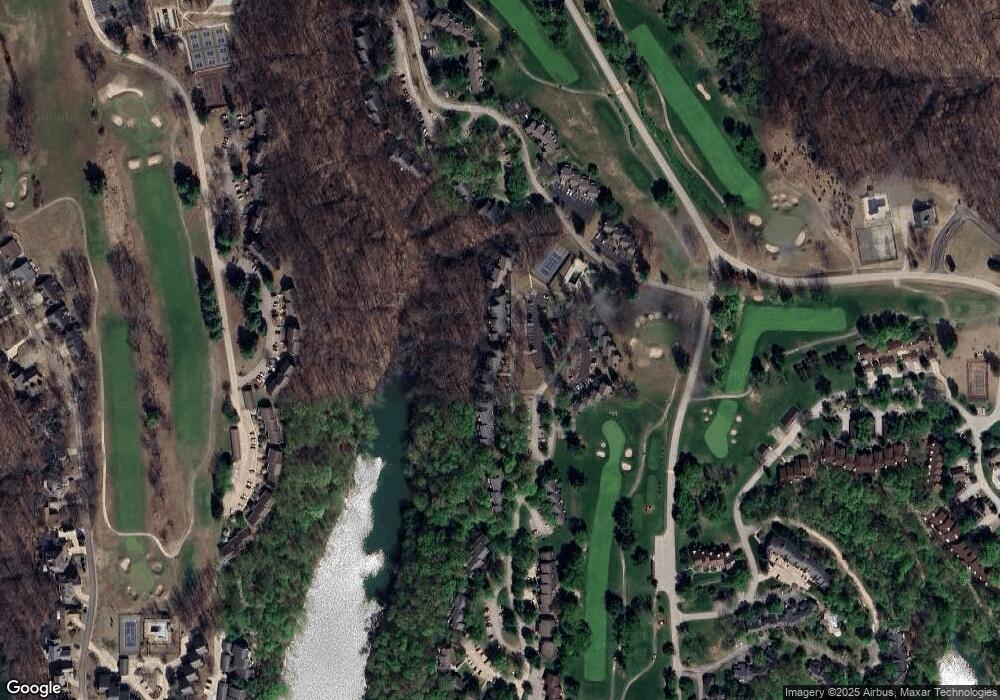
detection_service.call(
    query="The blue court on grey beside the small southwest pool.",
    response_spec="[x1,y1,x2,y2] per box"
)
[119,613,140,655]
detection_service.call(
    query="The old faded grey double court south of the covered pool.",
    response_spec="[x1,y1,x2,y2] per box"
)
[859,226,898,262]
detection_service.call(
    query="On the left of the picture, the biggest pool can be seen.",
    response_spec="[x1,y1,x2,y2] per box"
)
[146,613,173,649]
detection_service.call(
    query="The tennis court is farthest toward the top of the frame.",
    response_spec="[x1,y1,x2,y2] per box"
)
[186,23,231,72]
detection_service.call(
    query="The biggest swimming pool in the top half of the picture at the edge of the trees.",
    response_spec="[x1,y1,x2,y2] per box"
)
[859,190,892,226]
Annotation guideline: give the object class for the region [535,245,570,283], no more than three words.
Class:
tennis court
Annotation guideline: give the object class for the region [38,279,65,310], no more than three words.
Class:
house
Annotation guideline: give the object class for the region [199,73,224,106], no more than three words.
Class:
tennis court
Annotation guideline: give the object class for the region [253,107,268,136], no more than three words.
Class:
building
